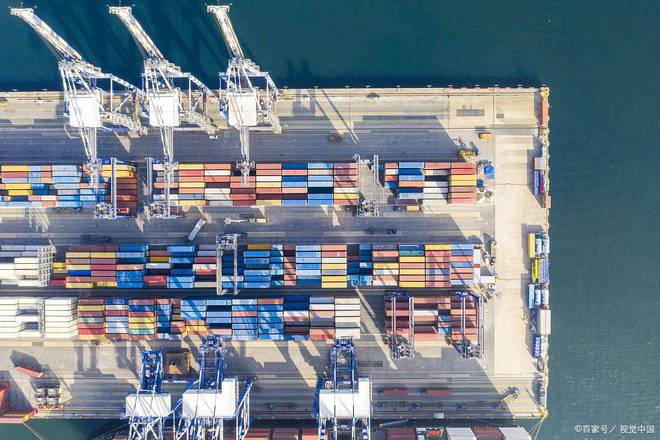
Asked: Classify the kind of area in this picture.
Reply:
port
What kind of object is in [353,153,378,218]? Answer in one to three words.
container crane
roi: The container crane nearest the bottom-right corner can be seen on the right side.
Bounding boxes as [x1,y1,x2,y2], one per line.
[450,292,484,361]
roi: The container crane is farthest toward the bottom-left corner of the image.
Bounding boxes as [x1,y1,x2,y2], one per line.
[124,349,198,440]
